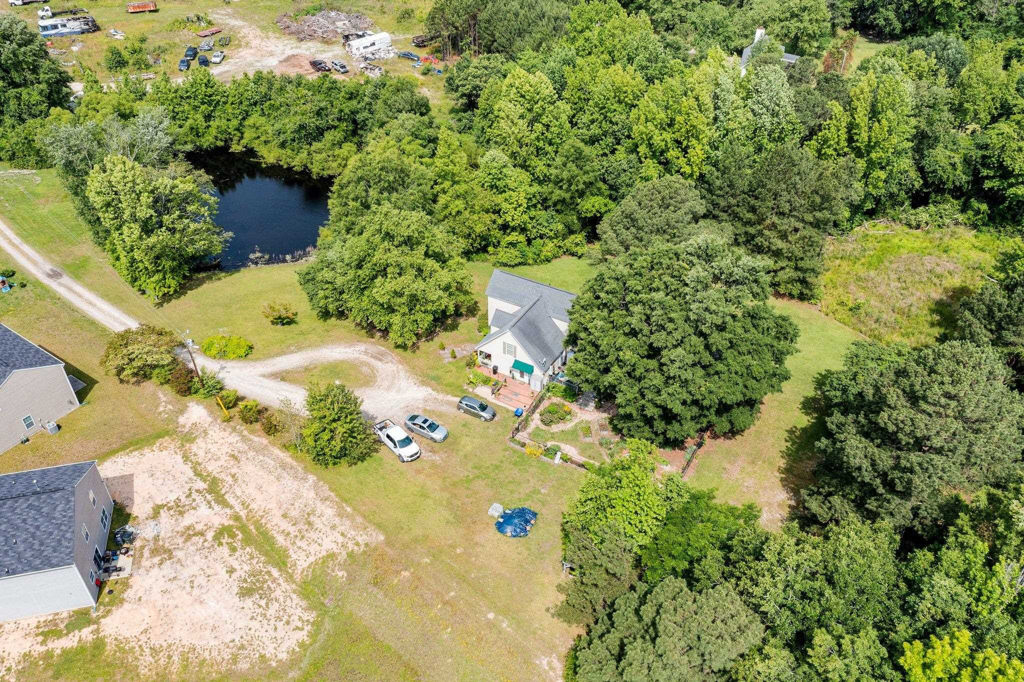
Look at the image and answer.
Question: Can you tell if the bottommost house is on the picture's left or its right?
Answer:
left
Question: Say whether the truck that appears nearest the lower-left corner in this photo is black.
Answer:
No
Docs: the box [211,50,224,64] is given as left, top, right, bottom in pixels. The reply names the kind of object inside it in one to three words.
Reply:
vehicle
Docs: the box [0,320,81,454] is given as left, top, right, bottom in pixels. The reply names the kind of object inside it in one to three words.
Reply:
house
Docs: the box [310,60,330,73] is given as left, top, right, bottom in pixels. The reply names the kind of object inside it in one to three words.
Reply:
vehicle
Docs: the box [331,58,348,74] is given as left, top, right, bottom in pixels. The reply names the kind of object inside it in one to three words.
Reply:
car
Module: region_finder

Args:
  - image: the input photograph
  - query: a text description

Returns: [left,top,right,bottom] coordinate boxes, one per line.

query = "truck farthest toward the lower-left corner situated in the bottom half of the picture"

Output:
[375,415,424,462]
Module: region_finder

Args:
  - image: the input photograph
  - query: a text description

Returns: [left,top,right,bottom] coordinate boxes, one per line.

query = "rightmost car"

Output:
[455,391,498,420]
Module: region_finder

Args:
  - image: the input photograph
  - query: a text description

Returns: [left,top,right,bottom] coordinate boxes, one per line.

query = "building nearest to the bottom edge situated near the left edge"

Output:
[0,460,114,624]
